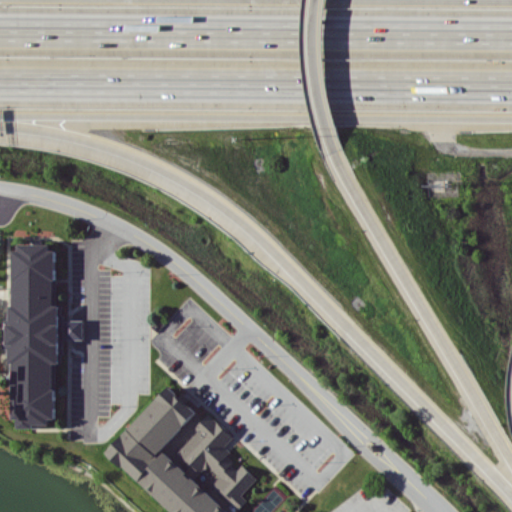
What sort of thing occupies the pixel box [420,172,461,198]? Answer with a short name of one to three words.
building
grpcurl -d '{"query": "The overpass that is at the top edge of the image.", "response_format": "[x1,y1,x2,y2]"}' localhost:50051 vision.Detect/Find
[300,0,344,154]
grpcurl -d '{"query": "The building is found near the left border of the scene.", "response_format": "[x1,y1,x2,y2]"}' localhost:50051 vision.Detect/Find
[1,245,58,430]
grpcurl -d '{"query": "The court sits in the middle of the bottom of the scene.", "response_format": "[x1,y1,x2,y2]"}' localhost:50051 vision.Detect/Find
[252,488,287,512]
